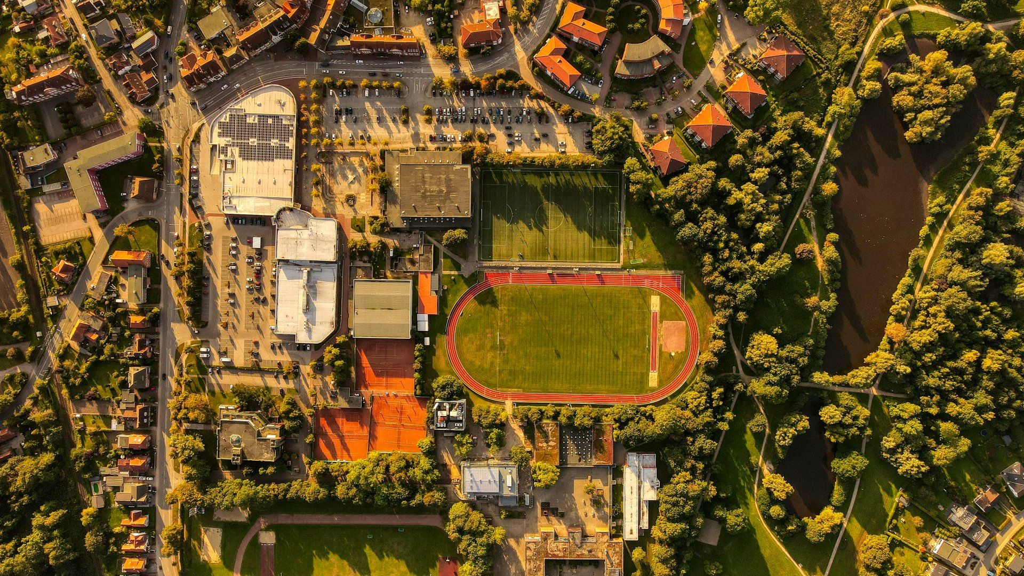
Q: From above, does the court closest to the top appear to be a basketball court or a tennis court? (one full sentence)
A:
From above, the court closest to the top can be identified as a tennis court.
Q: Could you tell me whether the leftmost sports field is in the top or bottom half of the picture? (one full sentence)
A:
Seen from above, the leftmost sports field lies in the bottom half of the view.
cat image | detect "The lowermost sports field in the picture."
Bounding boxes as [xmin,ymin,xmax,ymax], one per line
[232,514,465,576]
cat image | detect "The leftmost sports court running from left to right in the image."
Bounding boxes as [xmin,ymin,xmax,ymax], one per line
[213,508,249,522]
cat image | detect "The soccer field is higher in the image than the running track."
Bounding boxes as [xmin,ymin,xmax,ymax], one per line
[476,168,623,270]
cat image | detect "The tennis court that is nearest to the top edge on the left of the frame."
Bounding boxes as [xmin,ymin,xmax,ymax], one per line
[355,338,414,395]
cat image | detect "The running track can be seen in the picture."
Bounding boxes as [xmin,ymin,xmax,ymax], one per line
[447,269,699,404]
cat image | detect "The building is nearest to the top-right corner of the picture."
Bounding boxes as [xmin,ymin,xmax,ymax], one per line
[755,35,805,83]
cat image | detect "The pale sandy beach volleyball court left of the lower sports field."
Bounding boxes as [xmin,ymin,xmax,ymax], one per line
[200,527,222,563]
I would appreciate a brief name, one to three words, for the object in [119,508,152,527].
house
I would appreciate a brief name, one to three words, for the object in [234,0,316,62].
building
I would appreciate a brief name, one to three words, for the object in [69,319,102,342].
house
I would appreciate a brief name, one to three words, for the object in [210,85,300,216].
building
